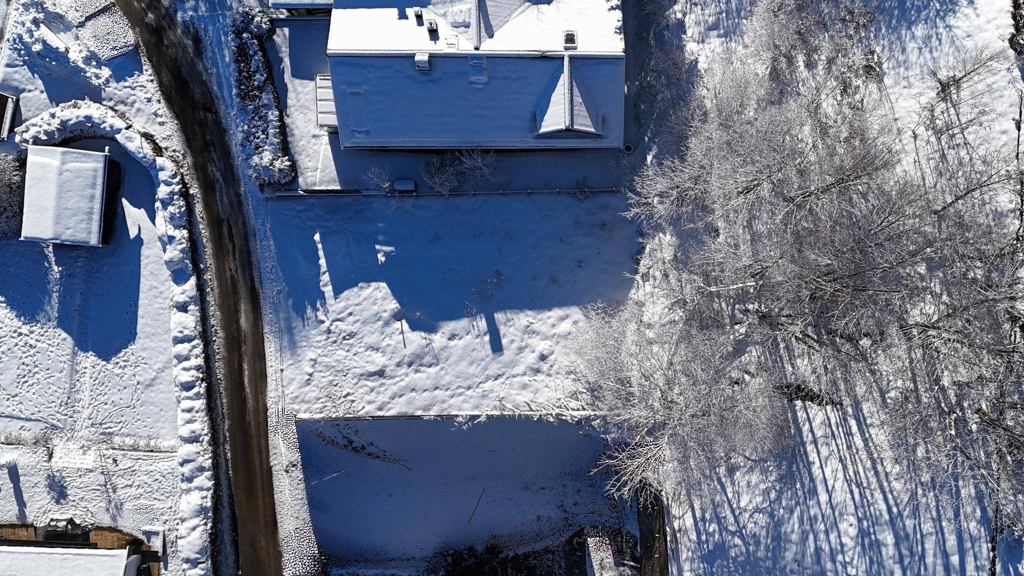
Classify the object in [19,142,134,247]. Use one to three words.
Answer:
shed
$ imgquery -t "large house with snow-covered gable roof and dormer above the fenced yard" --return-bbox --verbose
[317,0,627,152]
